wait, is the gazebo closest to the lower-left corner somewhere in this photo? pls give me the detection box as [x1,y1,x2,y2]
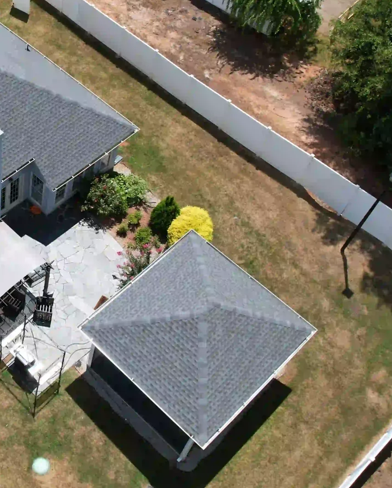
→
[0,314,68,400]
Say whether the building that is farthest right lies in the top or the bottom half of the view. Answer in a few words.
bottom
